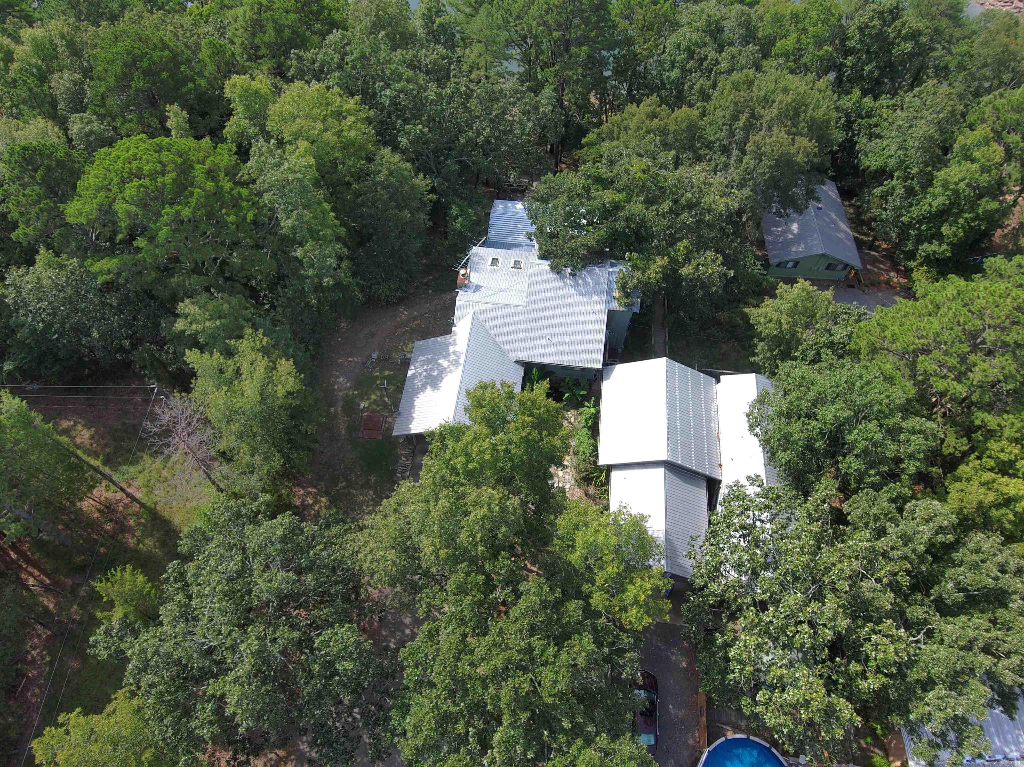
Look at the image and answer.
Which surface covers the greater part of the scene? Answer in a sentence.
Most of the picture is covered by trees.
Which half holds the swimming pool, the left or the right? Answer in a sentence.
The swimming pool appears in the right half of the scene.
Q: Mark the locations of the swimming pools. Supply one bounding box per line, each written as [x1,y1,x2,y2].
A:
[692,734,785,767]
